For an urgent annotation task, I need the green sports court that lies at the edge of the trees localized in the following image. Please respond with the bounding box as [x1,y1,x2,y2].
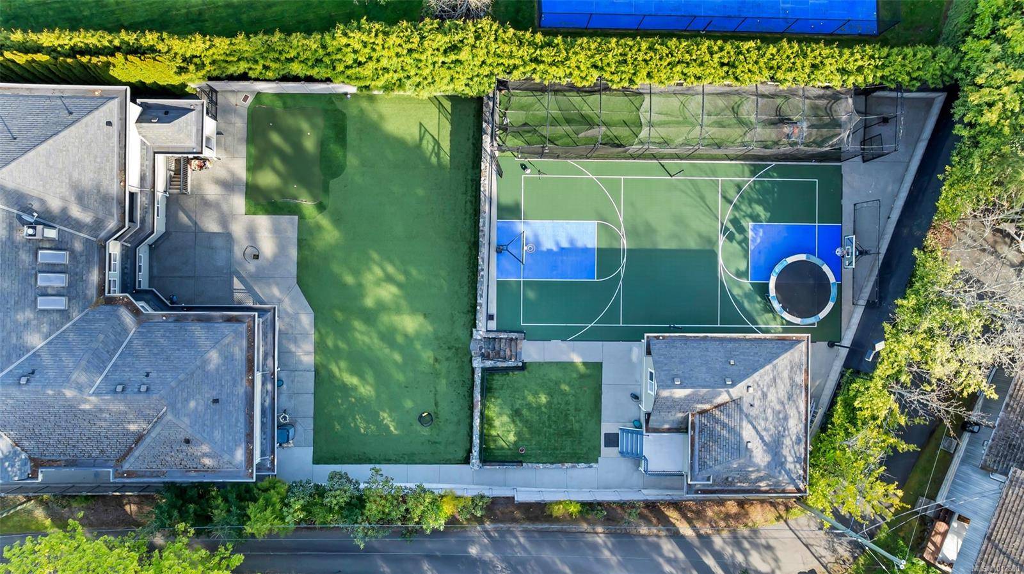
[497,160,841,341]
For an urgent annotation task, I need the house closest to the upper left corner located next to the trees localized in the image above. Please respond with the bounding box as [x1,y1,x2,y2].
[0,83,286,482]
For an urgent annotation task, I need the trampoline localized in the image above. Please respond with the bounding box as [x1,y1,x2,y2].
[765,255,837,325]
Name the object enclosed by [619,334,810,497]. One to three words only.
house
